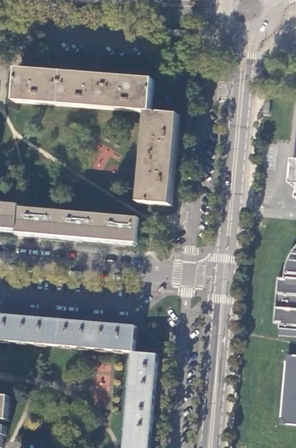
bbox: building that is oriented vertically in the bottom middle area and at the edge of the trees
[123,352,159,448]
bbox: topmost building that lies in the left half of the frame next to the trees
[9,66,154,112]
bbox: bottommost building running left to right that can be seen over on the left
[0,314,140,356]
